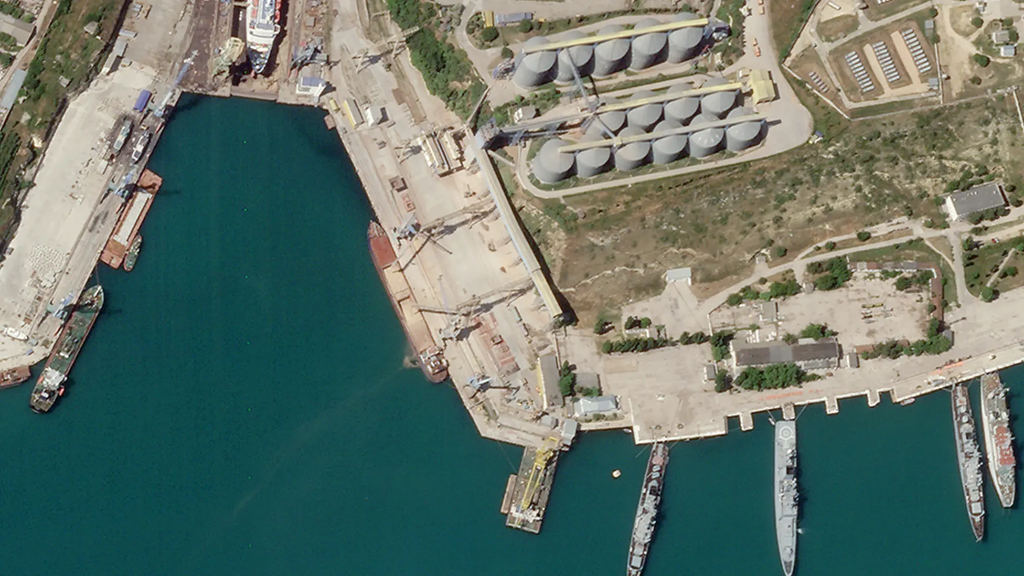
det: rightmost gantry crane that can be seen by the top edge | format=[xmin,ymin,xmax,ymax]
[352,24,421,71]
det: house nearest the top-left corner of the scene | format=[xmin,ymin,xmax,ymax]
[0,17,40,51]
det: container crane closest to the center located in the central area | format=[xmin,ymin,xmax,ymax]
[453,276,535,322]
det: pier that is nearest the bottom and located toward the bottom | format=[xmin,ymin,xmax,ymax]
[498,475,517,516]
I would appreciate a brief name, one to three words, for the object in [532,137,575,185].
silo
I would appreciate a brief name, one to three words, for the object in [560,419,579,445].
building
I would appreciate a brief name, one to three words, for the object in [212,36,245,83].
crane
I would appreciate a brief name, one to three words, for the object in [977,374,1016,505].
ship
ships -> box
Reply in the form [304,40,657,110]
[0,363,32,392]
[627,441,668,576]
[372,220,448,385]
[101,171,162,270]
[774,420,799,576]
[34,285,102,418]
[950,383,984,539]
[505,437,558,535]
[977,374,1016,505]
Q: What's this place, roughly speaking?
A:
port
